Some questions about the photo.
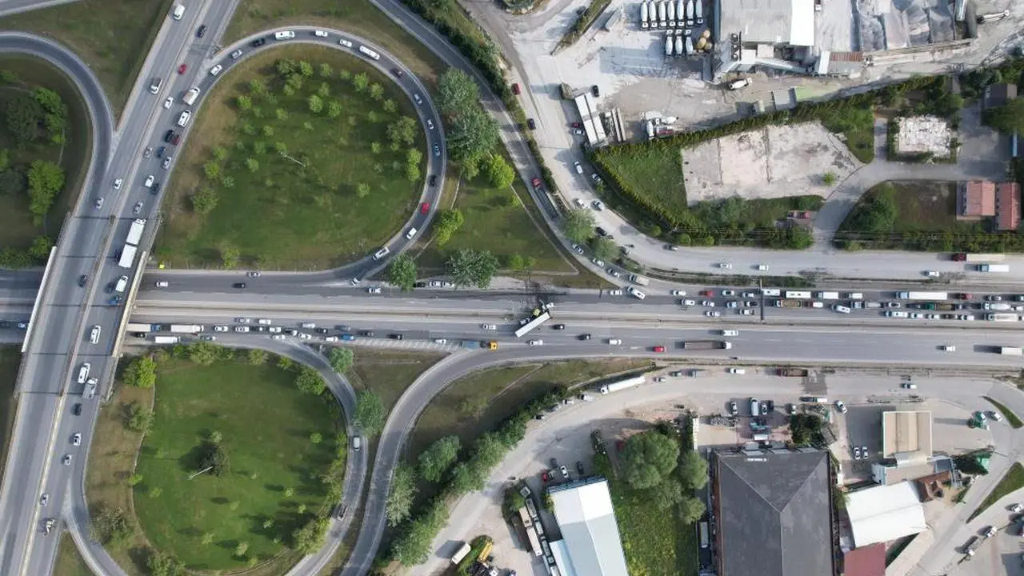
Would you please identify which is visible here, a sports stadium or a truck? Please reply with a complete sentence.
It is a truck that can be seen here.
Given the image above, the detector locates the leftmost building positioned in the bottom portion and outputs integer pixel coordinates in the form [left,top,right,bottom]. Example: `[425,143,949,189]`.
[549,475,627,576]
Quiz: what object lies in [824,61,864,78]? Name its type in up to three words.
shed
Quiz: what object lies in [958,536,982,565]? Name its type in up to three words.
truck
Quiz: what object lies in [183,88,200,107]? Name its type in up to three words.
vehicle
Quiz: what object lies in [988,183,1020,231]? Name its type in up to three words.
house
